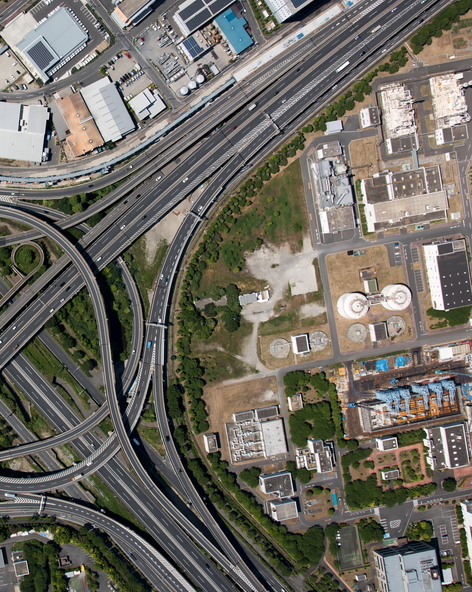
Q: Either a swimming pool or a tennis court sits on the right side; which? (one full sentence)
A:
There is a tennis court on the right side.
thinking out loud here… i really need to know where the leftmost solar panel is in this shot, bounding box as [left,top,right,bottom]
[28,40,59,70]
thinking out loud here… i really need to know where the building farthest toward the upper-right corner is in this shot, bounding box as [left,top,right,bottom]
[426,74,470,129]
